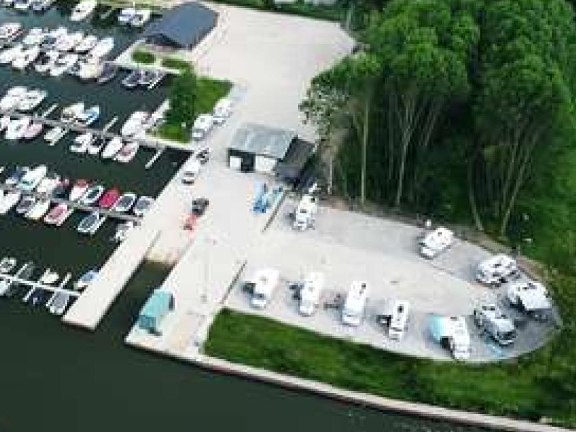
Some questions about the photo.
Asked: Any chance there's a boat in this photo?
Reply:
Yes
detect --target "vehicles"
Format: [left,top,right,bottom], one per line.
[193,113,213,138]
[182,163,200,181]
[470,249,524,287]
[419,221,455,260]
[443,310,472,360]
[385,292,412,344]
[251,264,281,310]
[294,191,317,230]
[343,277,370,326]
[189,197,207,217]
[472,296,518,349]
[297,268,326,317]
[500,278,563,318]
[197,150,208,163]
[213,99,230,120]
